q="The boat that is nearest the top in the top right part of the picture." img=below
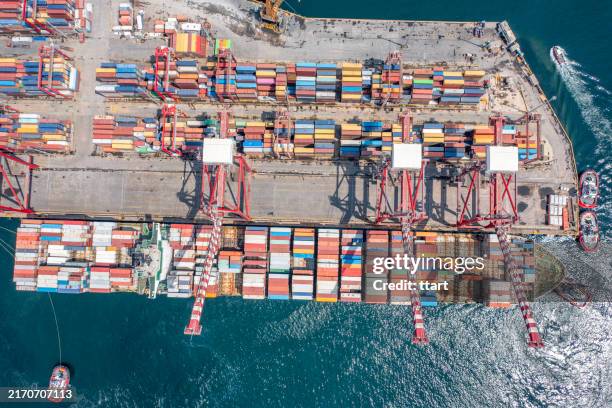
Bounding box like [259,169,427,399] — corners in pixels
[552,47,565,66]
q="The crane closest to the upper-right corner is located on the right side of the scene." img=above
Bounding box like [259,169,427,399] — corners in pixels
[507,113,543,164]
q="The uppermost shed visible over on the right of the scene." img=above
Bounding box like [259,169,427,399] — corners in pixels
[494,19,516,49]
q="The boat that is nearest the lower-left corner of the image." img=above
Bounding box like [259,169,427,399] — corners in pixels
[47,363,72,405]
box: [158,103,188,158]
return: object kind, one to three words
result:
crane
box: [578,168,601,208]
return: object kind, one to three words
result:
boat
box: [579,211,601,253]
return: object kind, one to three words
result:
boat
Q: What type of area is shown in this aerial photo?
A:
port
